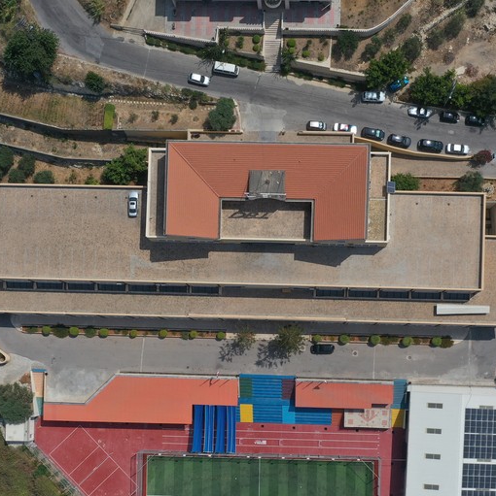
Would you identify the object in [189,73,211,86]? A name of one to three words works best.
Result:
vehicle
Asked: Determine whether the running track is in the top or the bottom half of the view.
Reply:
bottom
